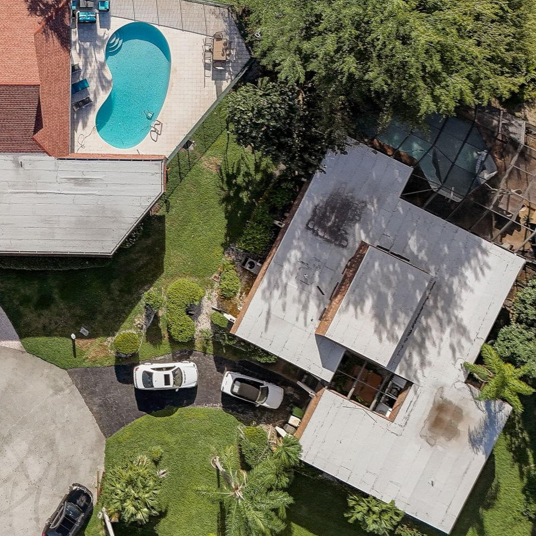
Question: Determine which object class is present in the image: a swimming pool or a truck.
swimming pool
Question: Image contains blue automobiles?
No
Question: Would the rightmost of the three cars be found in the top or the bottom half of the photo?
bottom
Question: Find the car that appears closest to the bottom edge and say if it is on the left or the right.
left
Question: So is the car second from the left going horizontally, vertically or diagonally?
horizontally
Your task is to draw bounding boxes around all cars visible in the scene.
[132,361,197,393]
[42,482,91,536]
[220,368,284,411]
